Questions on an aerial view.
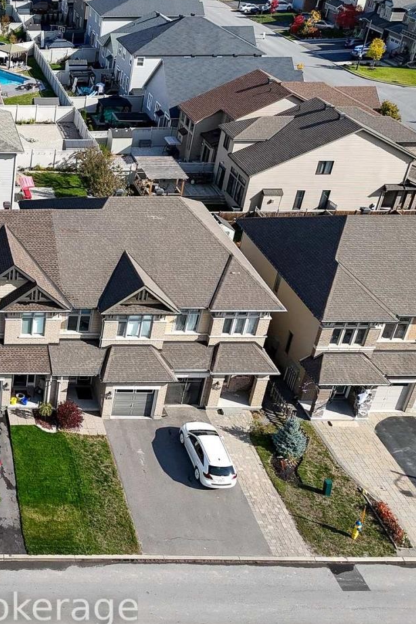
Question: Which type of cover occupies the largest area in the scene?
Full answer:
The scene is dominated by buildings.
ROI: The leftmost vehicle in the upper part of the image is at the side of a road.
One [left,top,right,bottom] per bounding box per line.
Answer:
[238,0,263,13]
